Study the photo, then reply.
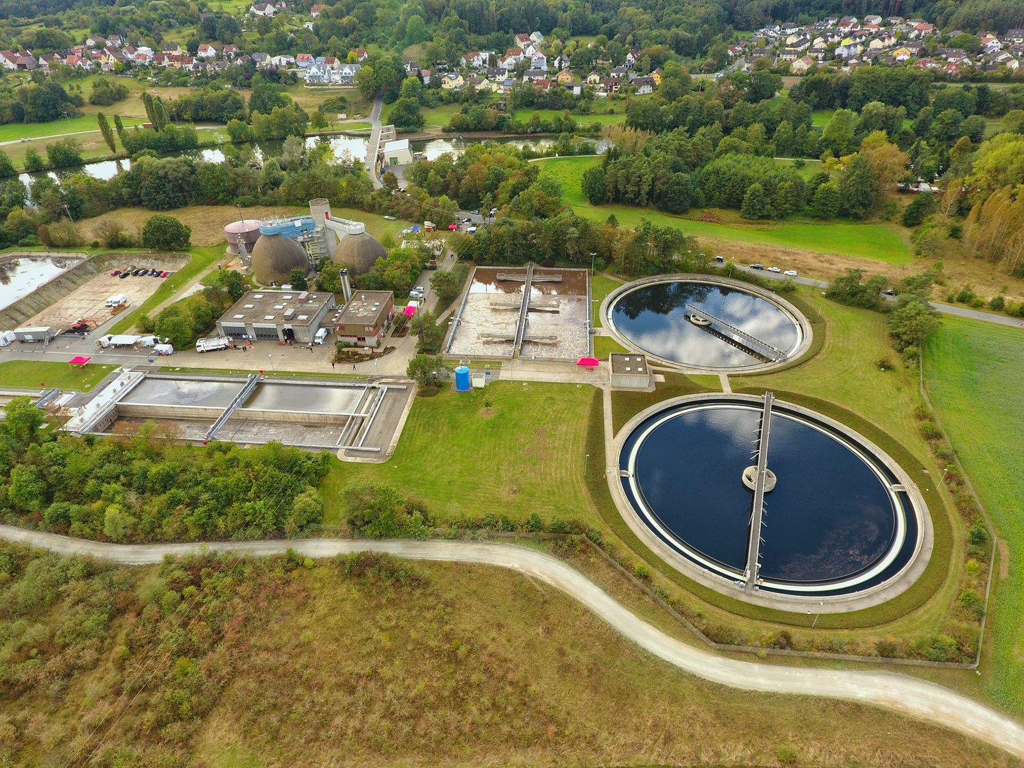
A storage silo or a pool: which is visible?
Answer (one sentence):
The image shows a storage silo.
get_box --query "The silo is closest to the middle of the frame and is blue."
[450,363,475,394]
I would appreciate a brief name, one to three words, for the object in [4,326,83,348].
trailer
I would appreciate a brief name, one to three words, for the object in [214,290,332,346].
building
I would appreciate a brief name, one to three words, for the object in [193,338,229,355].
vehicle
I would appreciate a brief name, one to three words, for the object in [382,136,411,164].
building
